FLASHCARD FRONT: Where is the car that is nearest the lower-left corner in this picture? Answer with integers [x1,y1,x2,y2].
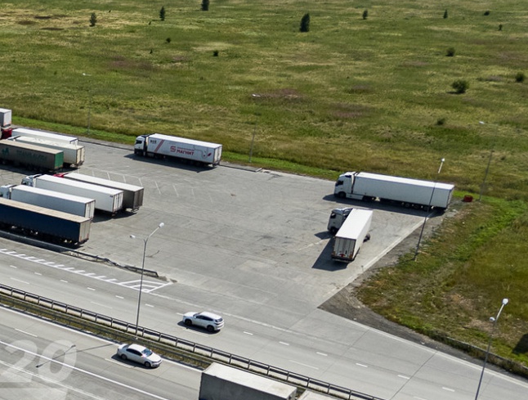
[119,341,165,365]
